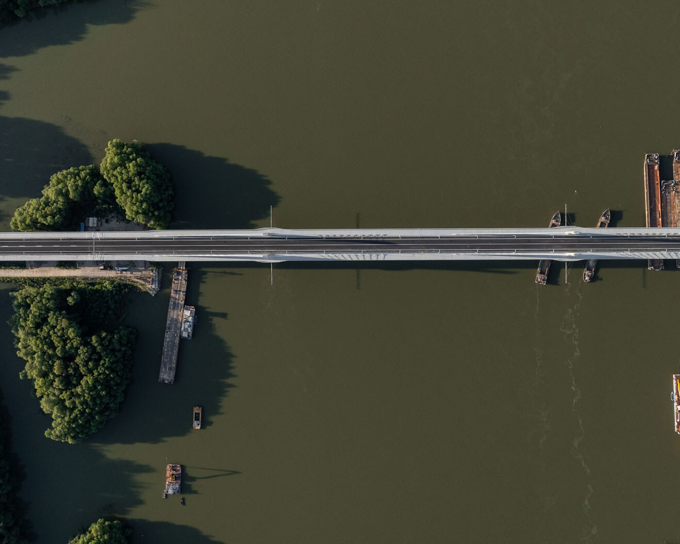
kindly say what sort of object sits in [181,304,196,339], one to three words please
boat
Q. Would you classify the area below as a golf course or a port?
port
